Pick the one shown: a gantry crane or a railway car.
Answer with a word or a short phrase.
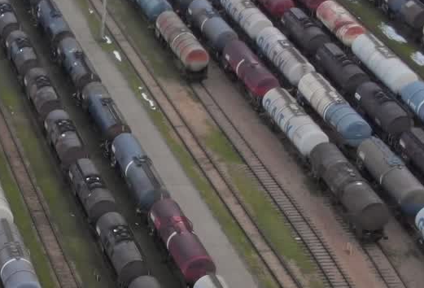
railway car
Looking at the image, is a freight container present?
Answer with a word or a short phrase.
No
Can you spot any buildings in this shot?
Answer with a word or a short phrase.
No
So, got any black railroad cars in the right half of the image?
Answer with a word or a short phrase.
Yes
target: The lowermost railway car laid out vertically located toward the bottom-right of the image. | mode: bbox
[403,207,424,257]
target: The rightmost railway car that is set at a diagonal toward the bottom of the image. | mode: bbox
[347,135,424,234]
